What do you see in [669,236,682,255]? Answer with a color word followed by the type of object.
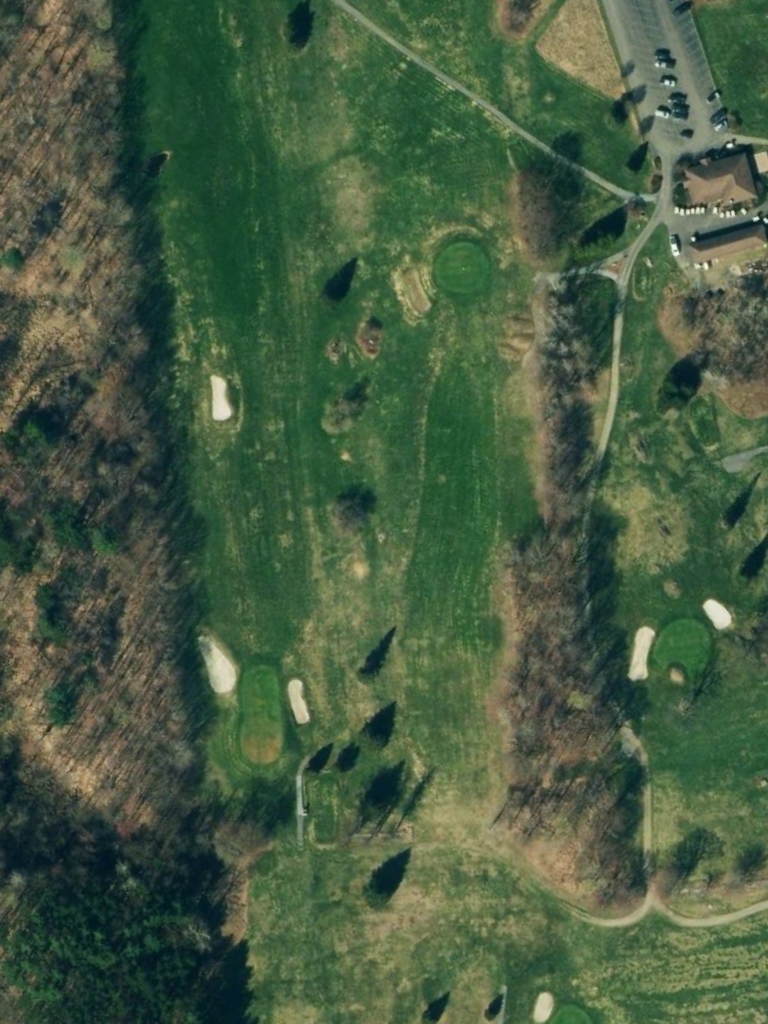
white vehicle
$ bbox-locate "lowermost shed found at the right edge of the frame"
[691,224,768,262]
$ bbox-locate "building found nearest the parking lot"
[683,152,759,212]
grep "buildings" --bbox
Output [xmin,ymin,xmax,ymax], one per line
[683,152,759,212]
[691,224,768,262]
